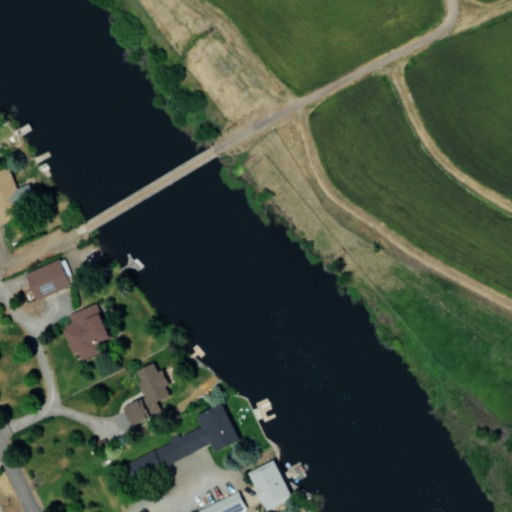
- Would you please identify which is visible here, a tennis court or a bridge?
bridge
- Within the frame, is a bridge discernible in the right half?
No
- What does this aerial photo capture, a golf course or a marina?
marina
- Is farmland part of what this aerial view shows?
Yes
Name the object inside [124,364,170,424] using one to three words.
house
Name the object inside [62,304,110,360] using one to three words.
house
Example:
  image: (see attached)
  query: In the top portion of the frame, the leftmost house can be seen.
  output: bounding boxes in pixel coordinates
[0,170,33,223]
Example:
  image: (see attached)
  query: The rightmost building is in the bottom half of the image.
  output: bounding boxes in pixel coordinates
[248,460,292,510]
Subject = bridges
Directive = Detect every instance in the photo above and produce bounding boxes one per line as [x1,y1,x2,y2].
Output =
[76,148,220,237]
